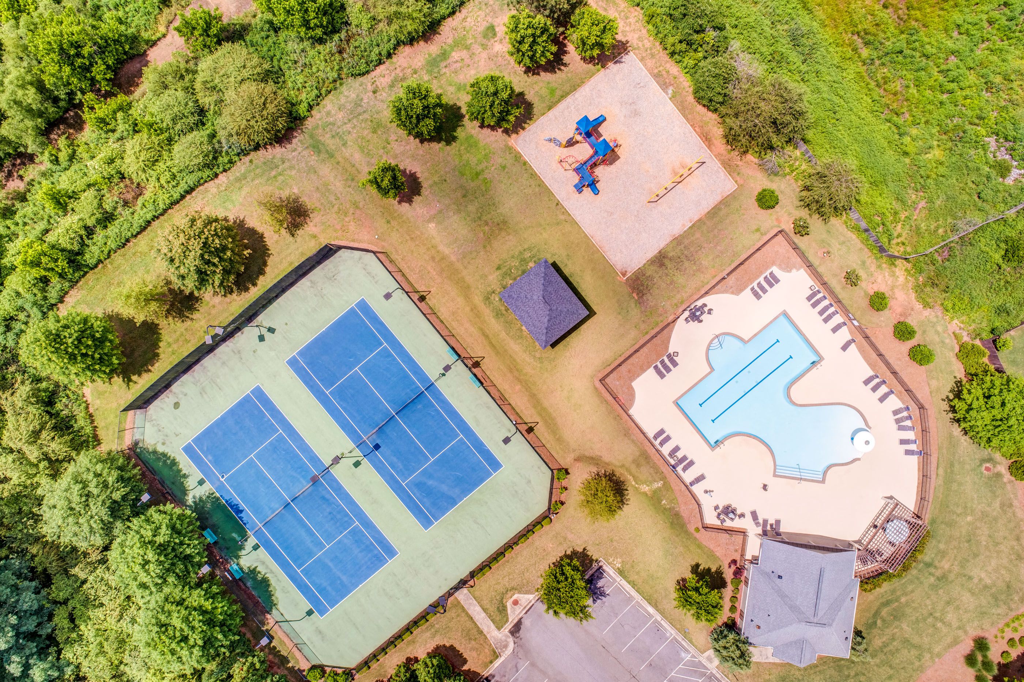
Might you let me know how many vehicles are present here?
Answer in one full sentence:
The count of vehicles is 0.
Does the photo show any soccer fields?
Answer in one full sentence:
No, there is no soccer field in the image.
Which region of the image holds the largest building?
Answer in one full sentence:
You can find the largest building in the bottom right area of the picture.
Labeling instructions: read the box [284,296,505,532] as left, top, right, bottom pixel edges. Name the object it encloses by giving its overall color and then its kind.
blue tennis court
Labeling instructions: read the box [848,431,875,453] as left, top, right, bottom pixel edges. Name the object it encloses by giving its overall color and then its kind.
white fountain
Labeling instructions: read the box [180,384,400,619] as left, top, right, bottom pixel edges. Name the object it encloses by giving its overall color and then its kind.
blue tennis court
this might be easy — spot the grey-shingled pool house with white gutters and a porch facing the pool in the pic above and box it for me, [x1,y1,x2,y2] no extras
[738,532,861,665]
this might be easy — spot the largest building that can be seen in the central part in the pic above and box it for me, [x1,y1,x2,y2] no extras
[499,258,589,350]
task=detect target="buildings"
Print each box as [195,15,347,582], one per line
[738,532,861,665]
[499,258,589,350]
